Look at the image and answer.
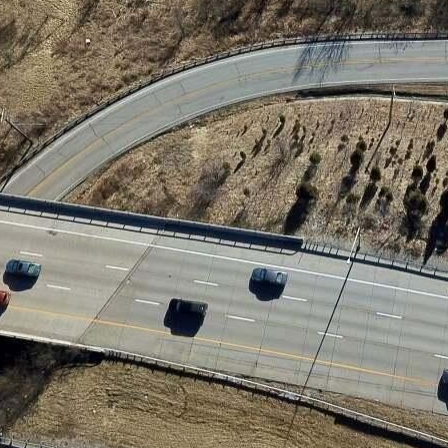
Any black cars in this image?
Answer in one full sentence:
Yes, there is a black car in the image.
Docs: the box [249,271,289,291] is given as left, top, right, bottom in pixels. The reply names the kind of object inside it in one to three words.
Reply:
car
